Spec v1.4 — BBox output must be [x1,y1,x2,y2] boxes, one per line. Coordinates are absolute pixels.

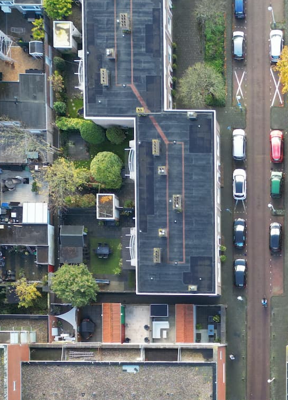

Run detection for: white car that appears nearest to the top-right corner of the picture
[268,29,285,64]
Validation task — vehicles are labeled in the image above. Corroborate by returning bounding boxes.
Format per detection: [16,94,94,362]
[268,222,284,253]
[268,130,285,163]
[231,218,247,250]
[268,29,285,64]
[269,172,284,198]
[230,31,246,61]
[235,0,246,21]
[232,259,248,290]
[230,129,247,160]
[231,169,248,201]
